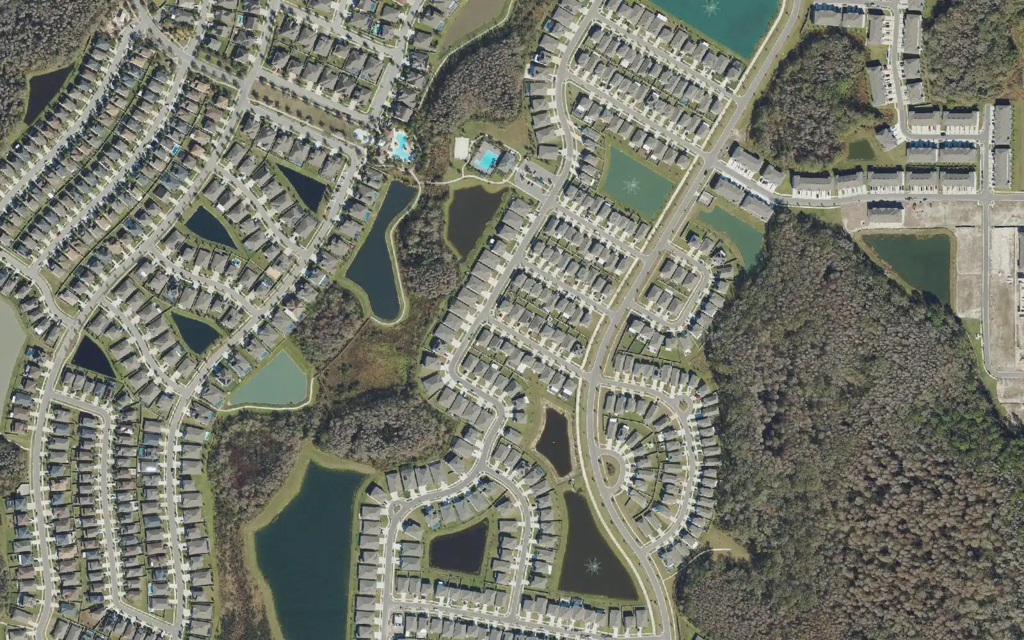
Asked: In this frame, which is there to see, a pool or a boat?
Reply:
pool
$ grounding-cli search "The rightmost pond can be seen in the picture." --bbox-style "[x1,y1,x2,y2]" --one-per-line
[862,232,952,305]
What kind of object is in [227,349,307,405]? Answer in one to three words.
pond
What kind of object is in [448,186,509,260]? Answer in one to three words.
pond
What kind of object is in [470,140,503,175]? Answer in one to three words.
swimming pool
